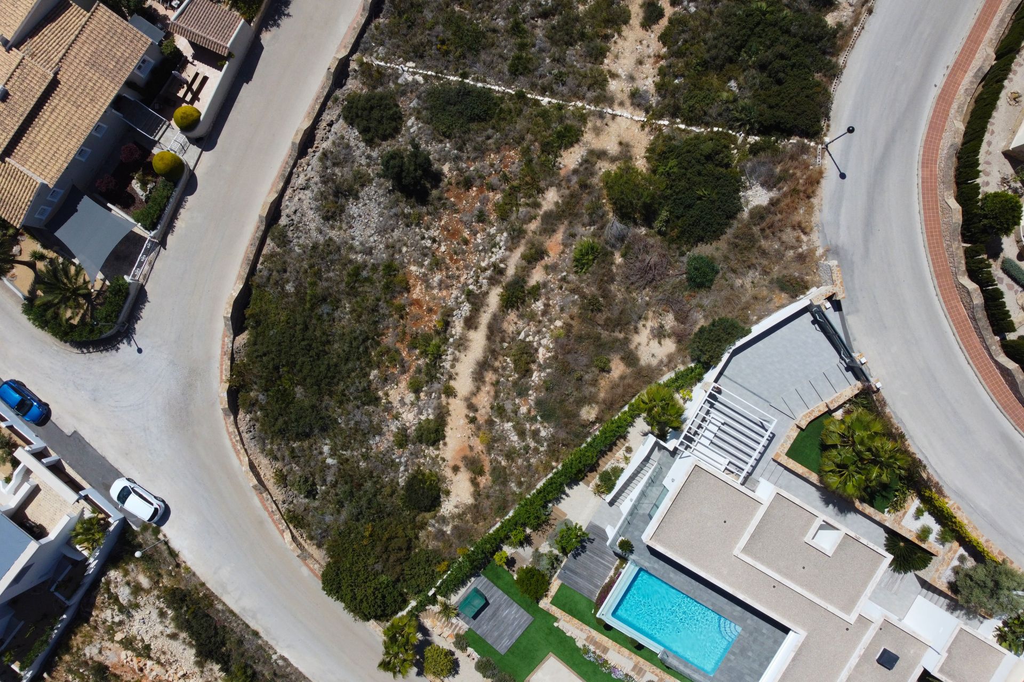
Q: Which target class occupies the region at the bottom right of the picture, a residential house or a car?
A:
residential house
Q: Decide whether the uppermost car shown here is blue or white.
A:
blue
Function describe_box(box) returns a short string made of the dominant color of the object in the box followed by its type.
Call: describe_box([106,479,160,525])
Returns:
white car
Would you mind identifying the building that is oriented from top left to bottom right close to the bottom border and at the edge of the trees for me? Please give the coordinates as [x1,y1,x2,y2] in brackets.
[633,451,1024,682]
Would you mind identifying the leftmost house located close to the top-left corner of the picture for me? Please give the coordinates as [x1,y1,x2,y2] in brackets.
[0,0,170,231]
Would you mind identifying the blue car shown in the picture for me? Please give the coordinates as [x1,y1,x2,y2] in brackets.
[0,381,45,425]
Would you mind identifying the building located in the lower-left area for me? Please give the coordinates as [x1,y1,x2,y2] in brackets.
[0,447,96,650]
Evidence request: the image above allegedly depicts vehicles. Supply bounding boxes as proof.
[106,479,160,525]
[0,381,45,425]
